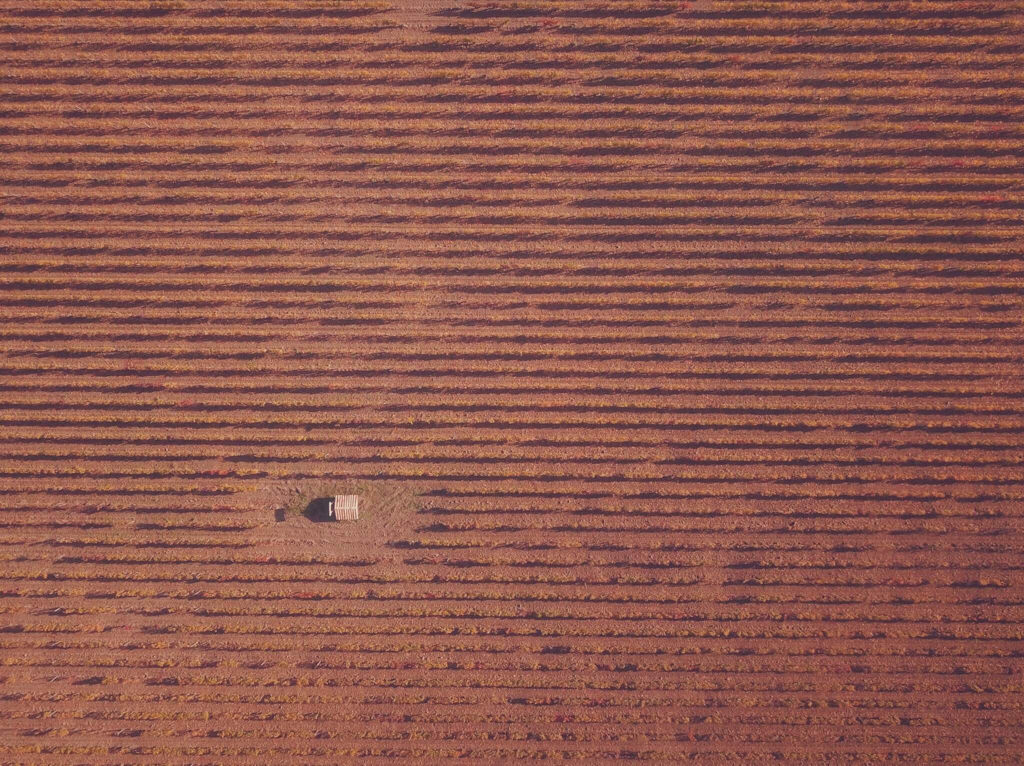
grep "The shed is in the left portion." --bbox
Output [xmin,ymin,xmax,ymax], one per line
[335,494,359,521]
